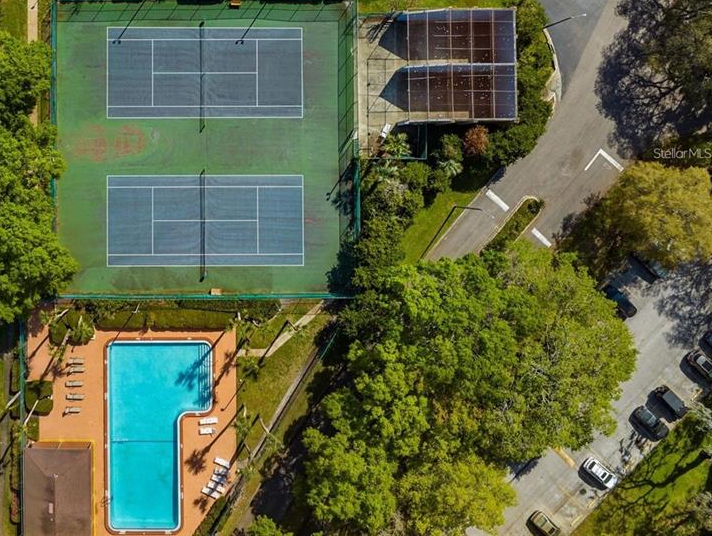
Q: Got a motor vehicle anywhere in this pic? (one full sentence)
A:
Yes, a motor vehicle can be made out from above.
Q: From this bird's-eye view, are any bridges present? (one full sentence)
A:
No, the frame has no bridge in it.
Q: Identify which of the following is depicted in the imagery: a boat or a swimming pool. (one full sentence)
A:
Looking from above, you can make out a swimming pool.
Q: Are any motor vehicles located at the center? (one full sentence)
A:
No, I can find no motor vehicle at the center.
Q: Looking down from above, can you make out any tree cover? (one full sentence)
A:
Yes, tree cover shows up in the scene.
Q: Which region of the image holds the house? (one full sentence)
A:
The house is located in the bottom left region of the scene.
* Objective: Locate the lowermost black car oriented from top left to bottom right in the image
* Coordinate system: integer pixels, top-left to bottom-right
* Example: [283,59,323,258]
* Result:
[631,406,672,442]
